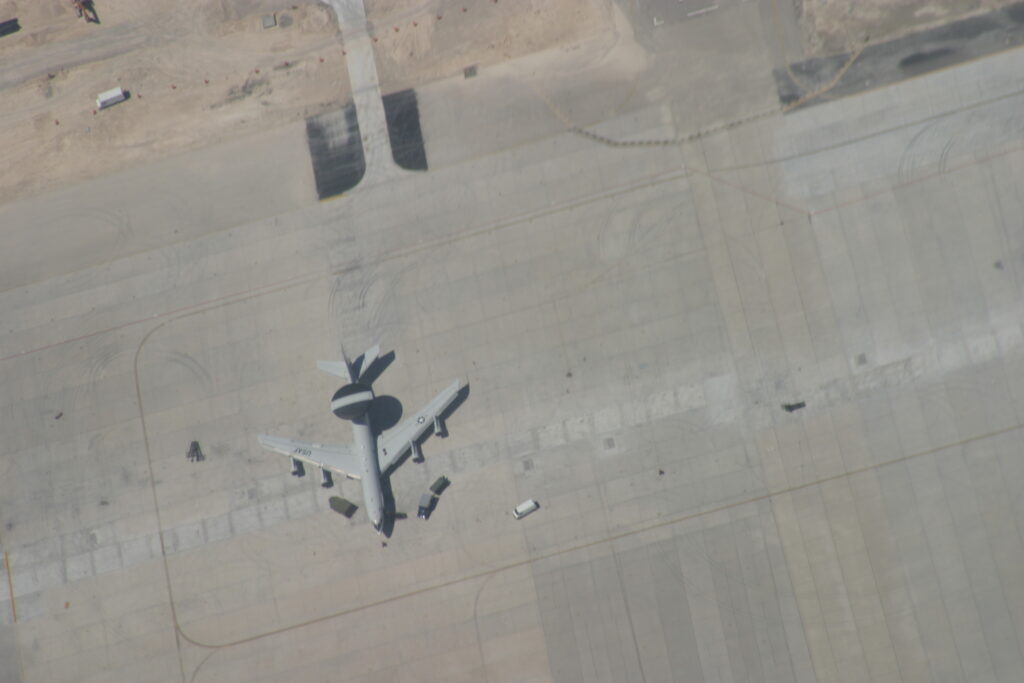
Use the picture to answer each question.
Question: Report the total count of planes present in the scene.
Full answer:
The picture shows 1 plane.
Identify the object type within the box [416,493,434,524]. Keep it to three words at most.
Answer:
vehicle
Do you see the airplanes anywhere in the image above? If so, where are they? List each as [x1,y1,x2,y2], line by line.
[257,341,460,534]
